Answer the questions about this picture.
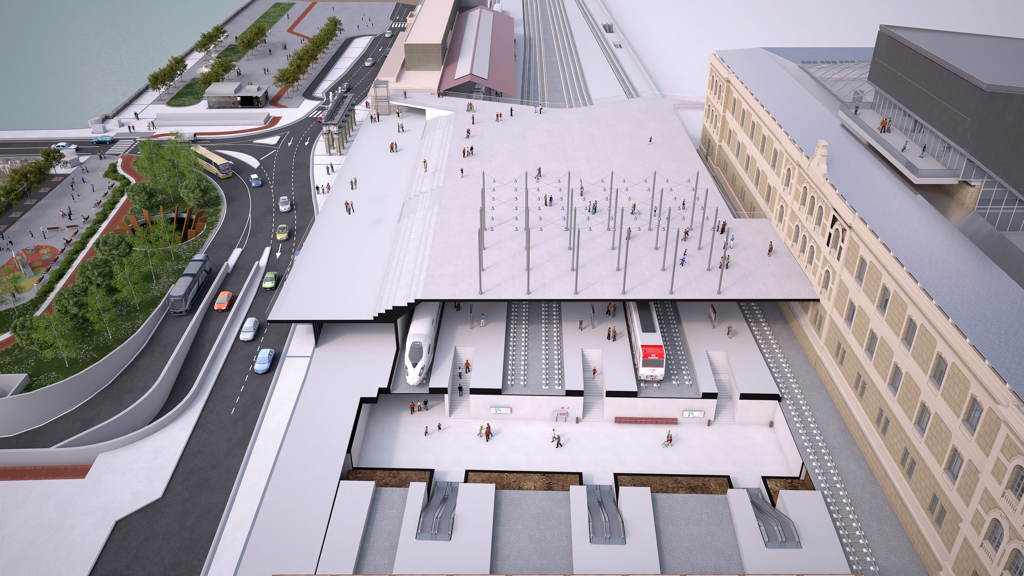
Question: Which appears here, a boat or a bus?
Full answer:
It is a bus that can be seen here.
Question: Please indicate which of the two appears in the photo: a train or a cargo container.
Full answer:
I can see a train in this picture.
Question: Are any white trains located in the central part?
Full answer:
Yes, in the central part there is a white train.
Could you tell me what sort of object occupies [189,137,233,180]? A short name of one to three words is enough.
bus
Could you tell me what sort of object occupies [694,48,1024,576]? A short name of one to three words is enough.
building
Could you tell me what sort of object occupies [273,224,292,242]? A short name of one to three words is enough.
car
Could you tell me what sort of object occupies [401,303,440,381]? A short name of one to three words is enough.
train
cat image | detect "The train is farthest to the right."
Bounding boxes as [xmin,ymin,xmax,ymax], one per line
[624,302,670,382]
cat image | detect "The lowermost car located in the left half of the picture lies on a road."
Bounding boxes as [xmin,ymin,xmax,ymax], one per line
[252,348,275,380]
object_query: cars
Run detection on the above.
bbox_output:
[252,348,275,380]
[384,29,393,37]
[247,171,262,186]
[48,139,79,149]
[365,57,374,66]
[89,133,115,144]
[290,247,302,267]
[237,318,260,346]
[383,47,392,56]
[211,293,236,316]
[275,195,293,212]
[316,109,328,121]
[273,224,292,242]
[340,82,351,92]
[259,270,279,292]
